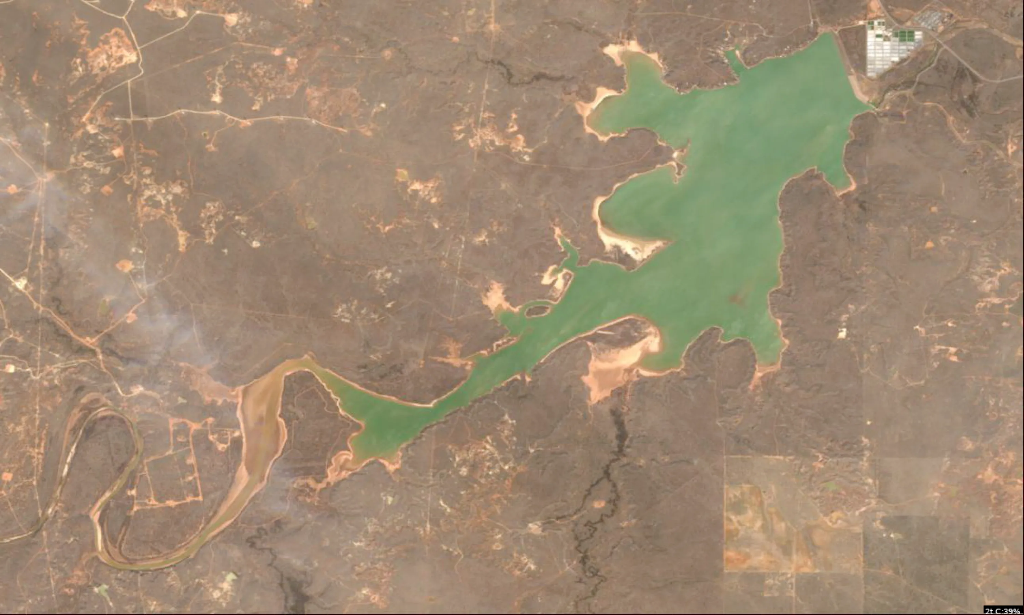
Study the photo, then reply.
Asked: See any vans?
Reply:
No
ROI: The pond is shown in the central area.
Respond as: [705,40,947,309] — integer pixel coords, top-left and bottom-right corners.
[277,34,872,469]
